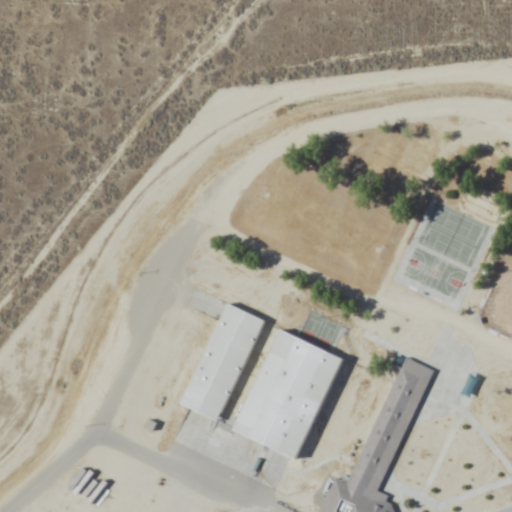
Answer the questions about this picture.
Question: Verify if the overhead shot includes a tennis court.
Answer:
Yes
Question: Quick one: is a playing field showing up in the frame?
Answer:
Yes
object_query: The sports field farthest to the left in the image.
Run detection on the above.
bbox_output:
[232,127,438,294]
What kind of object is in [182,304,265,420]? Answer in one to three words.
building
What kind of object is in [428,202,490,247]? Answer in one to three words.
tennis court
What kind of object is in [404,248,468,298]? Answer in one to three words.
basketball court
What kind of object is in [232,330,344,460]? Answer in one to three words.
building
